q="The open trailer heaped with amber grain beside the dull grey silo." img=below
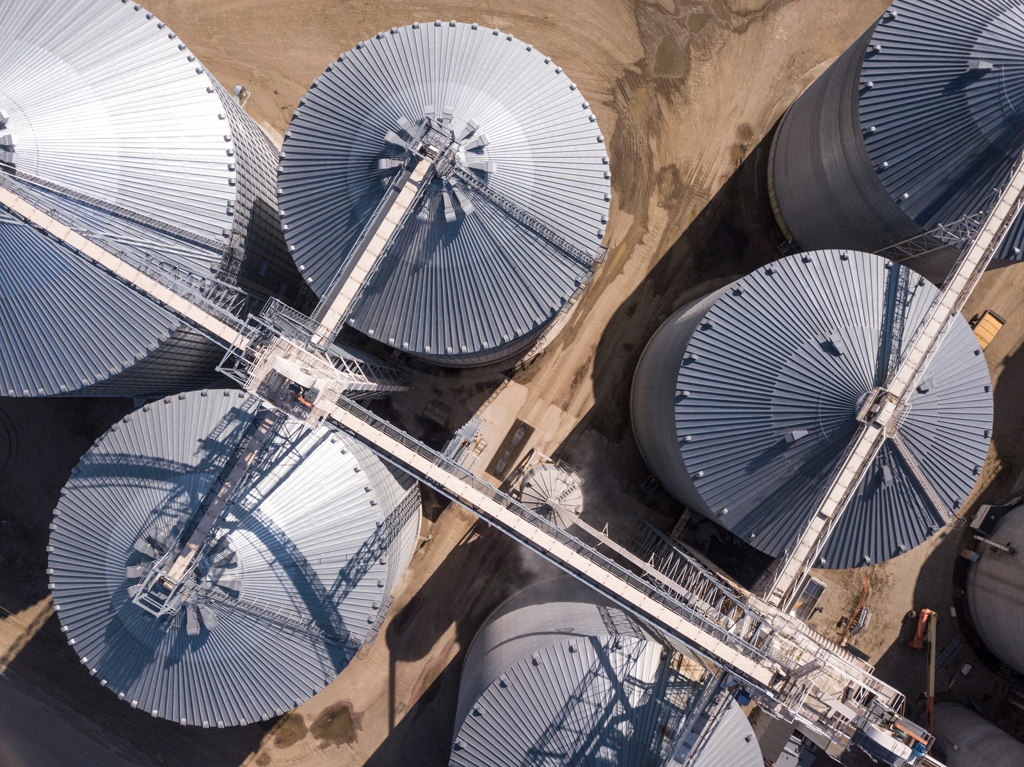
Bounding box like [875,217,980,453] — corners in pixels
[968,310,1006,353]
